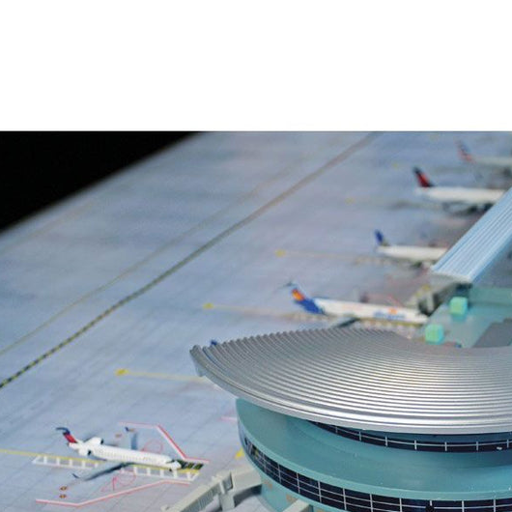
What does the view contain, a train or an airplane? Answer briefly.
airplane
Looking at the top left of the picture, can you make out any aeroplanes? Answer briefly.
No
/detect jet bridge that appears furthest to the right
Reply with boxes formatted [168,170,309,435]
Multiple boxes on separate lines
[407,280,459,318]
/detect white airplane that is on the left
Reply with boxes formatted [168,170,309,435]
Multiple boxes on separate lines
[51,423,177,474]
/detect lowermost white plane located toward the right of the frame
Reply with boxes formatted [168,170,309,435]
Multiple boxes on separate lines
[300,280,431,328]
